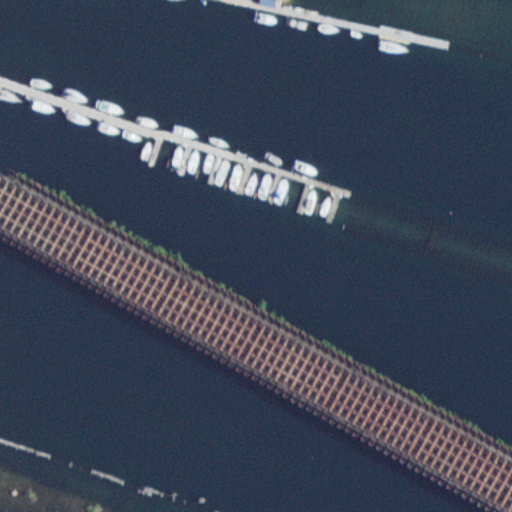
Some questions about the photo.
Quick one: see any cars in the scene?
No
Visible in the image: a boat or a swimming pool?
boat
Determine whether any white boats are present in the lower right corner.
No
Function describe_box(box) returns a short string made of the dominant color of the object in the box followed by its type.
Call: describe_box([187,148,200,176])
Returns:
white boat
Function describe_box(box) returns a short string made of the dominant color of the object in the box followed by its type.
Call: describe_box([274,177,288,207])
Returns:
white boat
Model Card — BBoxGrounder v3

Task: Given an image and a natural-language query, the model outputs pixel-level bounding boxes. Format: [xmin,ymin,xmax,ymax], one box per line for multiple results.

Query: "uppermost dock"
[218,0,450,50]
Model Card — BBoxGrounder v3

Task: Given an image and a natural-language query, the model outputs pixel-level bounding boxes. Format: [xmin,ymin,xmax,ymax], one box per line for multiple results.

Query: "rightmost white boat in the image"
[377,40,410,54]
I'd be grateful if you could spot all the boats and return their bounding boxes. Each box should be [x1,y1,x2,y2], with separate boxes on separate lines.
[292,159,318,176]
[140,142,152,162]
[348,30,362,39]
[244,174,256,198]
[214,160,230,188]
[258,173,272,202]
[135,117,159,128]
[264,152,283,166]
[121,130,142,142]
[30,78,52,89]
[0,90,22,101]
[171,124,198,138]
[187,148,200,176]
[96,122,120,134]
[318,196,332,219]
[62,88,88,103]
[304,189,317,217]
[318,23,339,34]
[274,177,288,207]
[94,100,124,114]
[65,112,91,125]
[229,163,243,193]
[377,40,410,54]
[208,136,230,148]
[30,100,56,113]
[252,12,278,24]
[172,146,184,170]
[203,152,214,175]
